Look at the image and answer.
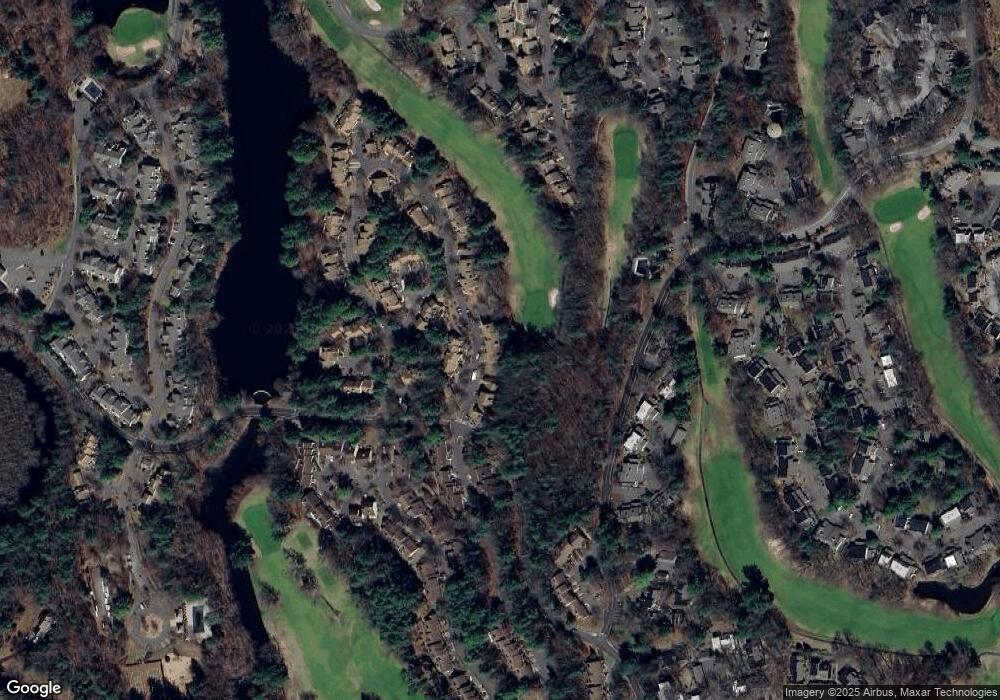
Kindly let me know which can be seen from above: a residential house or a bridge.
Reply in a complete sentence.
There is a residential house in the scene.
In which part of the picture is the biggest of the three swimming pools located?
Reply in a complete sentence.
The biggest of the three swimming pools is located in the bottom left region of the scene.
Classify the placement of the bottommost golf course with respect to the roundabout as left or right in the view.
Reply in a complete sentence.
It is on the right side of the roundabout that the bottommost golf course is positioned.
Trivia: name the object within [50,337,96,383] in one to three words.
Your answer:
house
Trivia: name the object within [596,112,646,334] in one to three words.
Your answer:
golf course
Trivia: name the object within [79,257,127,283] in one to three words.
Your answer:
house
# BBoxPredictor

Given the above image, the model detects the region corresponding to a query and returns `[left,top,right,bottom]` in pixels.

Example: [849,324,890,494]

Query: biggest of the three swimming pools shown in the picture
[186,599,212,644]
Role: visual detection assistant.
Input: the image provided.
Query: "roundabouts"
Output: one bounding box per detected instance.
[129,602,173,645]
